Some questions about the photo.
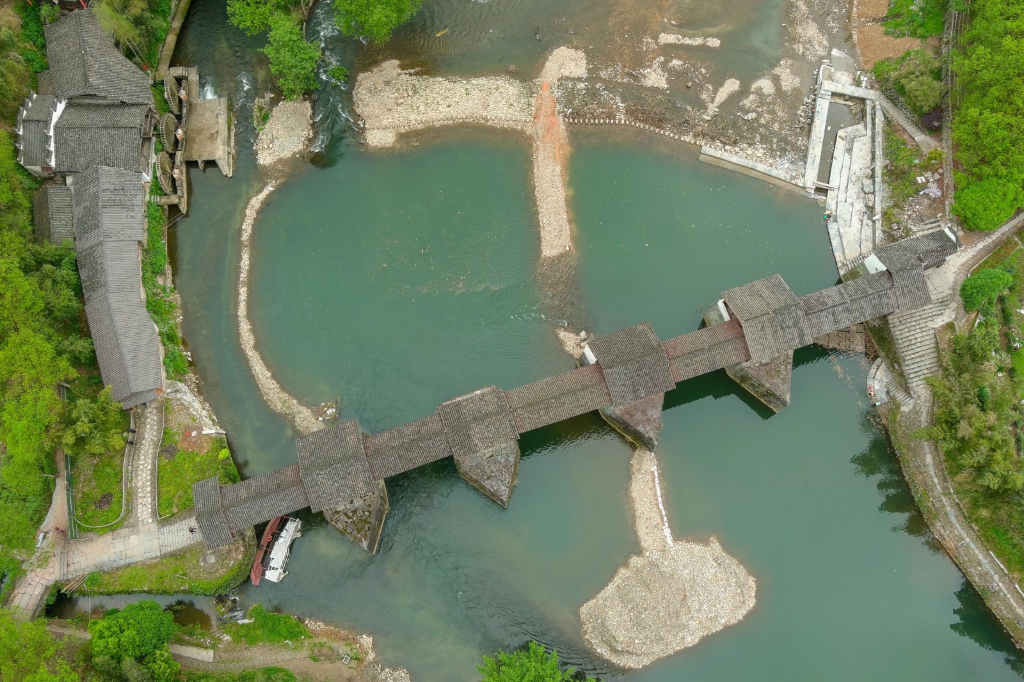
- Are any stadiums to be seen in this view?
No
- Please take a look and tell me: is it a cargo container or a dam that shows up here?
dam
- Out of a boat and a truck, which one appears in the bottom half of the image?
boat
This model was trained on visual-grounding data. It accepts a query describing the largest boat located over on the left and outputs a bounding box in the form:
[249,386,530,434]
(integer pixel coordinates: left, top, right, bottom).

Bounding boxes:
[250,510,302,586]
